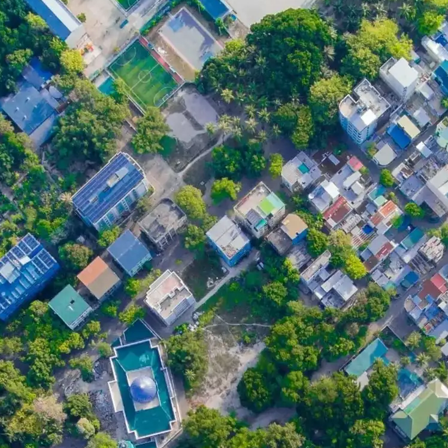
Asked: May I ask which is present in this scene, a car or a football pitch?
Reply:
football pitch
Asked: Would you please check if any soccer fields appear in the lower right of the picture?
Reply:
No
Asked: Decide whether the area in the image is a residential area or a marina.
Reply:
residential area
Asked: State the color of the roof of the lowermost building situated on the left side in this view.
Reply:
blue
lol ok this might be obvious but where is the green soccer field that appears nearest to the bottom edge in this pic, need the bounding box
[105,36,184,106]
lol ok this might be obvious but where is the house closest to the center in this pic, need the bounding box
[206,216,251,262]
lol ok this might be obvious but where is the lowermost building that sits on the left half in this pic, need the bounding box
[108,319,180,448]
